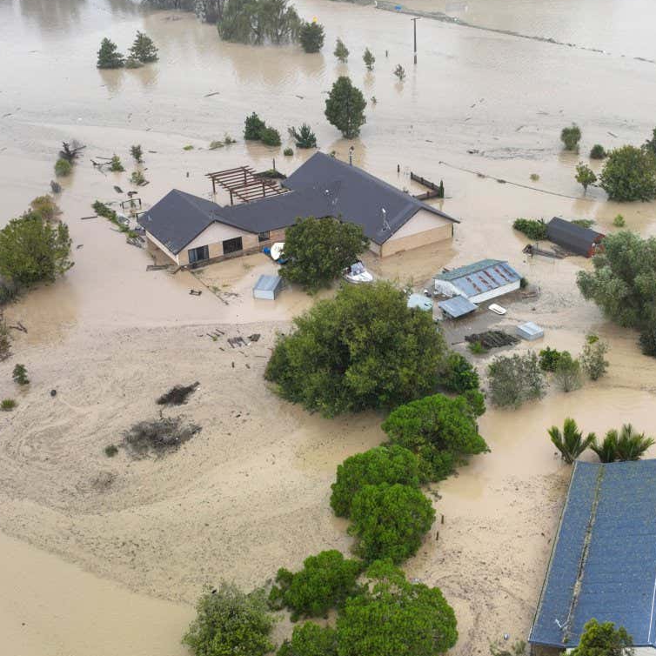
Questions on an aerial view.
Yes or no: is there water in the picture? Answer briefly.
Yes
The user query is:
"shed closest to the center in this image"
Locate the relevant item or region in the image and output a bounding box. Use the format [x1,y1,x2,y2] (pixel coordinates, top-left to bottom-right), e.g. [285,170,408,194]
[250,271,284,298]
